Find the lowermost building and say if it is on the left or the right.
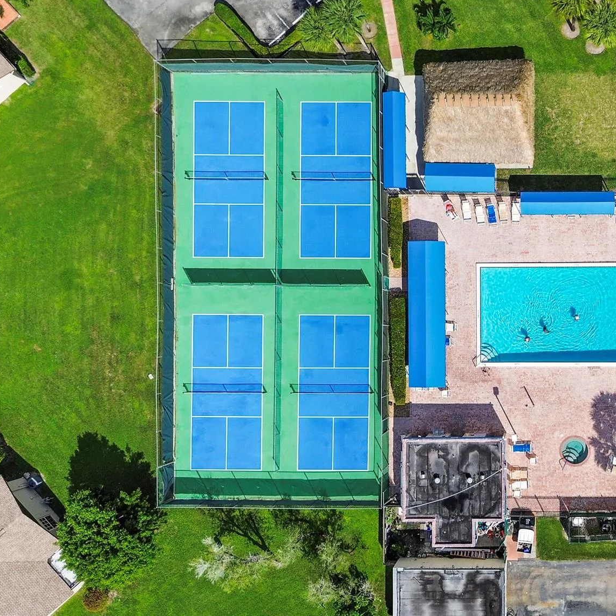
right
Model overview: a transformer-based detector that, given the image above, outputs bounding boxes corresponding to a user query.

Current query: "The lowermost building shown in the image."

[394,559,507,616]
